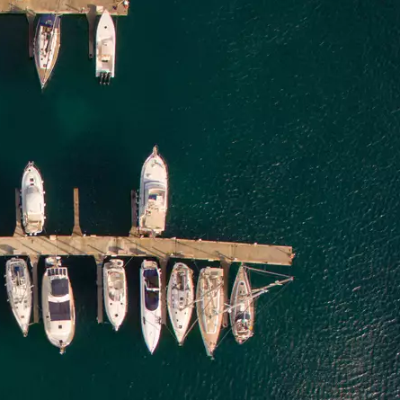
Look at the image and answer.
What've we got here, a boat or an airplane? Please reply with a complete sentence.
The one in the frame is a boat.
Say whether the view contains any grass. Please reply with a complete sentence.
No, grass can't be seen anywhere here.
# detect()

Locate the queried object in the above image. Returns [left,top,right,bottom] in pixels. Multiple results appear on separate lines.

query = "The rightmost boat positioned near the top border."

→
[94,0,116,83]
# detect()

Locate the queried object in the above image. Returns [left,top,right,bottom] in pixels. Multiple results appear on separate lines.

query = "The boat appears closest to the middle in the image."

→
[136,143,169,247]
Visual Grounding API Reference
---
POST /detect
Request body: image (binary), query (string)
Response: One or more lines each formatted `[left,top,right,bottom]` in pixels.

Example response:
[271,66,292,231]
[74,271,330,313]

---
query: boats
[32,0,63,89]
[228,256,293,344]
[19,160,46,244]
[195,255,269,357]
[42,255,65,266]
[39,256,76,355]
[101,256,128,331]
[166,256,223,346]
[108,259,126,268]
[94,0,116,83]
[5,251,35,339]
[137,261,163,354]
[136,143,169,247]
